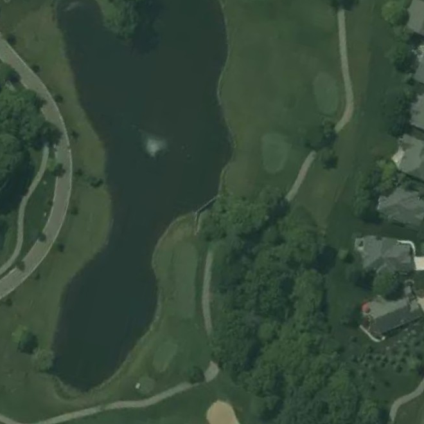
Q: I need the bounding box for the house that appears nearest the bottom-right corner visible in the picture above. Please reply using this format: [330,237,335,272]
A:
[364,290,424,340]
